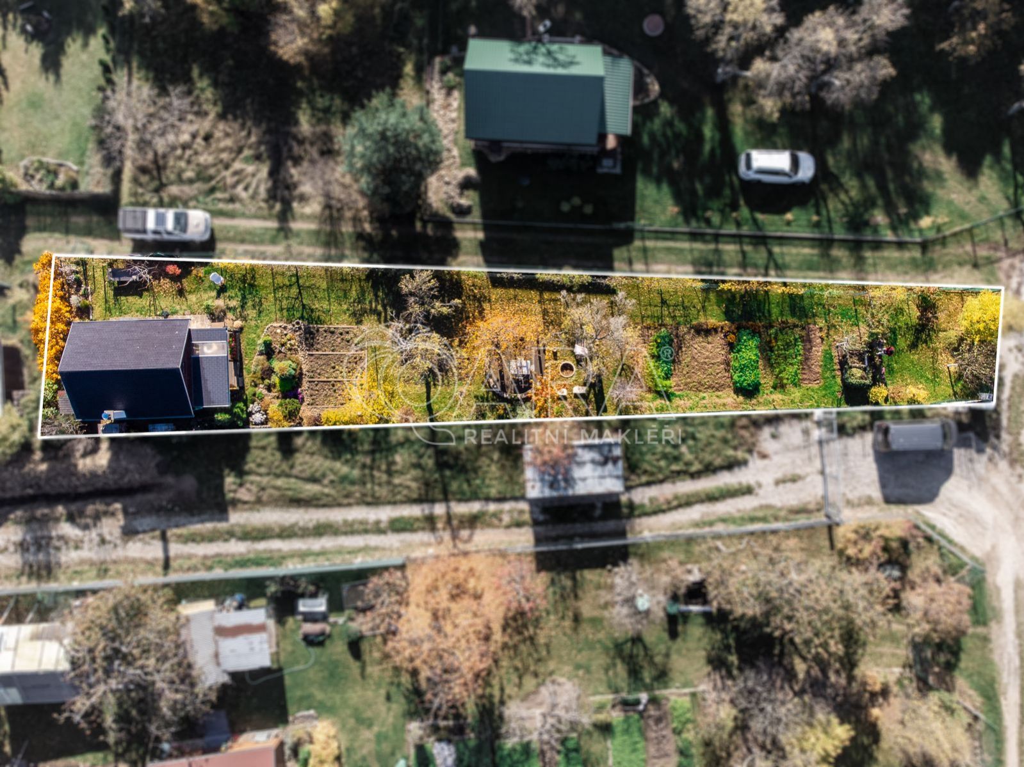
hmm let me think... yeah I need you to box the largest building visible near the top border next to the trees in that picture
[464,37,636,159]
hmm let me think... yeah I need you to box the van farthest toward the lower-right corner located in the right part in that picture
[871,417,957,455]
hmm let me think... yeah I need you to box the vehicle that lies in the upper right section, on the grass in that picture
[736,148,814,188]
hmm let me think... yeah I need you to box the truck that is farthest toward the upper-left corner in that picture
[116,205,214,244]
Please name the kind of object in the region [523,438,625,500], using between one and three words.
shed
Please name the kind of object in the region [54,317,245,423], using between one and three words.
house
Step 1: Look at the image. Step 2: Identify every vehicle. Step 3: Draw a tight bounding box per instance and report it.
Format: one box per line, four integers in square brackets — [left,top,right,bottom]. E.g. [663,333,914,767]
[116,205,214,244]
[871,417,957,455]
[736,148,814,188]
